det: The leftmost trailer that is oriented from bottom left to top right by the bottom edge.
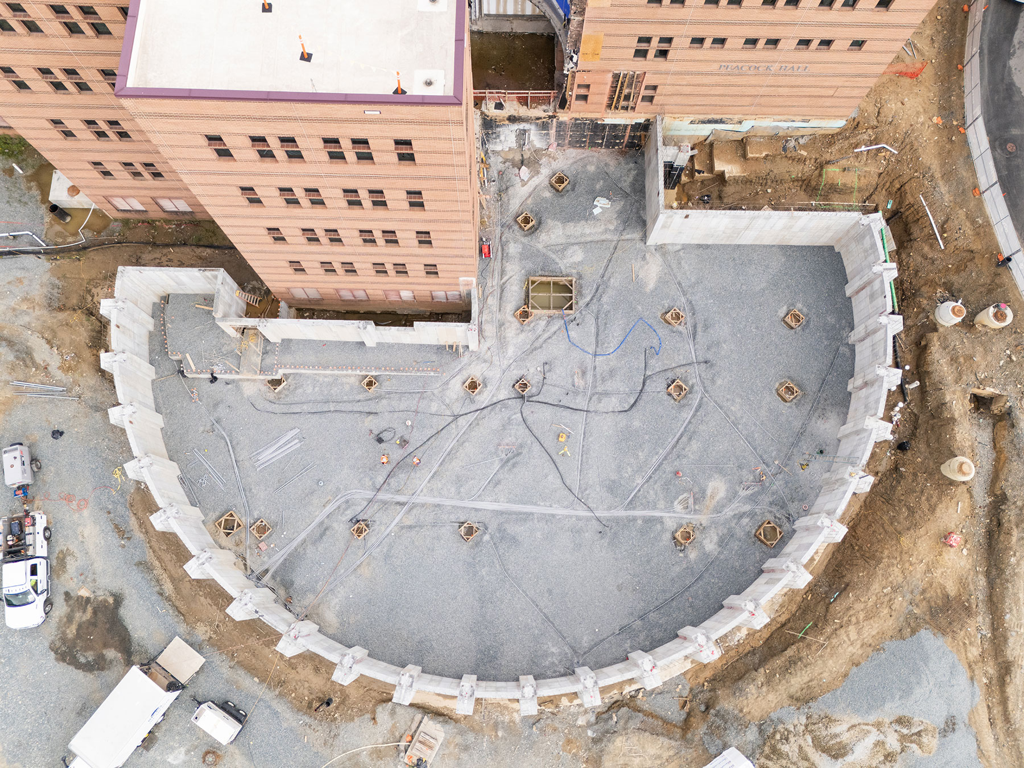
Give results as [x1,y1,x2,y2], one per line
[69,630,211,768]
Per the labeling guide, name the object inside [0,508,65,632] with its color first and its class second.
white truck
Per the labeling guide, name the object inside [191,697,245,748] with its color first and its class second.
white trailer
